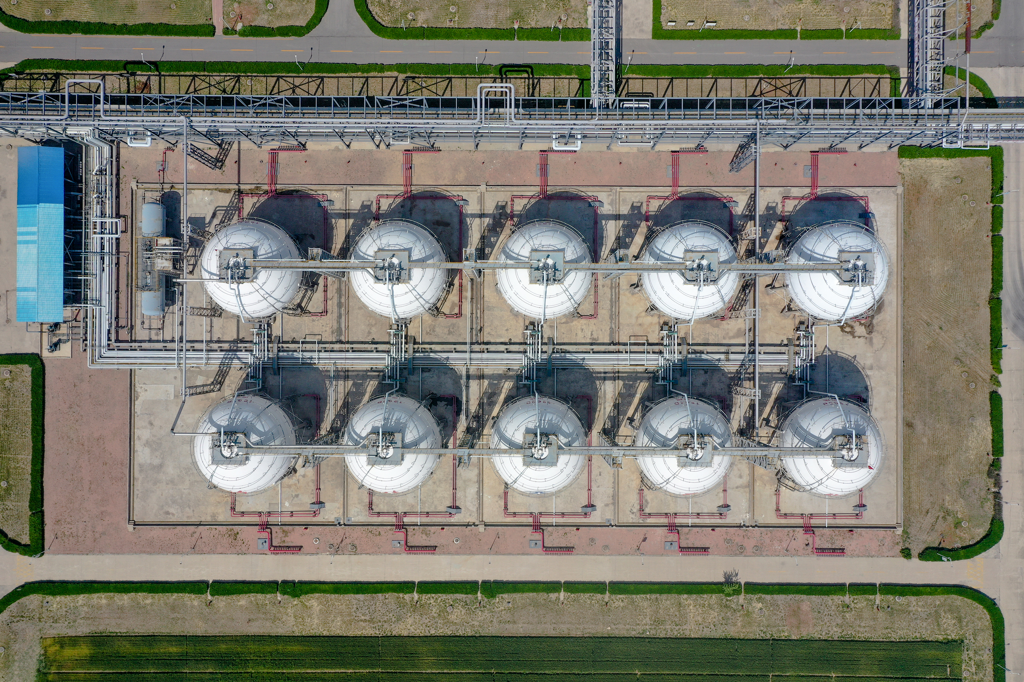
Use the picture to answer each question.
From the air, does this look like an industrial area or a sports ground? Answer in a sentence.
The picture captures an industrial area.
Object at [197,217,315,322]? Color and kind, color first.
white storage tank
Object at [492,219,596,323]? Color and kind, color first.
white storage tank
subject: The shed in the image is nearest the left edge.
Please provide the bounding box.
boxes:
[17,144,78,322]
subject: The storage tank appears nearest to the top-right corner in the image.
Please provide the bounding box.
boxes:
[766,221,893,325]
